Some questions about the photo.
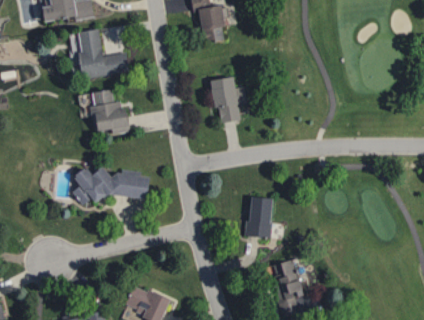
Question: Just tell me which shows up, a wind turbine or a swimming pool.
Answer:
swimming pool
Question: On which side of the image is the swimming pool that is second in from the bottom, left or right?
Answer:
left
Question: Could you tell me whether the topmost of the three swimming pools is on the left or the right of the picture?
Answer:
left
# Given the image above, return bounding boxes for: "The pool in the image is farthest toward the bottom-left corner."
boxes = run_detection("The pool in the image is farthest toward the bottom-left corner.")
[49,164,76,207]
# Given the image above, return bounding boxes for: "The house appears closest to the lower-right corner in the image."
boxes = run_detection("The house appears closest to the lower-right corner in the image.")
[273,260,304,311]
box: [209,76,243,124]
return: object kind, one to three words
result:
house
